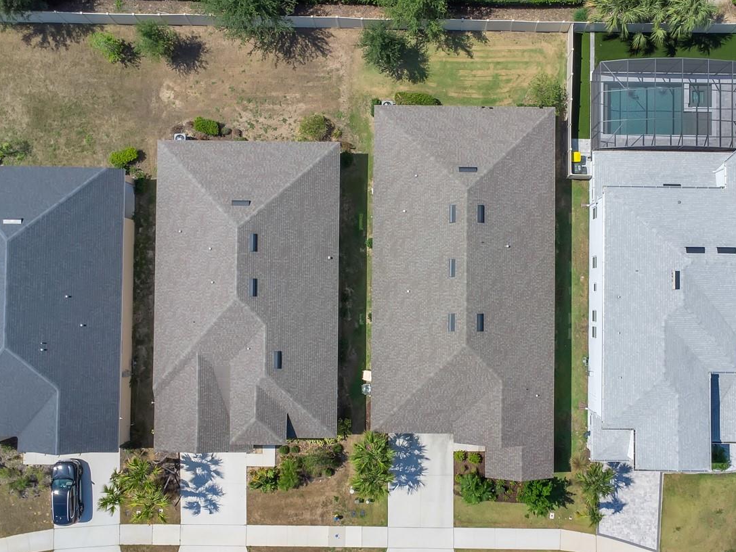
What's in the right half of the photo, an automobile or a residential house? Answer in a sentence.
There is a residential house in the right half of the photo.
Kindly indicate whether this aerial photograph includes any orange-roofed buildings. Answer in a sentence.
No, there is no orange-roofed building in the image.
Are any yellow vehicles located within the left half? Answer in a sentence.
No, there's no yellow vehicle to be seen within the left half.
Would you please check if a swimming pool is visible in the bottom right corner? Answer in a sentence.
No, I can find no swimming pool in the bottom right corner.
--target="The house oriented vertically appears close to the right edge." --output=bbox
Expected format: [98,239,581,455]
[584,148,736,473]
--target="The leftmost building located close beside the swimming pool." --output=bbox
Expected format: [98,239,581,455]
[371,104,556,482]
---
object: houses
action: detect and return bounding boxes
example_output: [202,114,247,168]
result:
[371,104,556,482]
[584,148,736,473]
[153,139,341,453]
[0,167,143,456]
